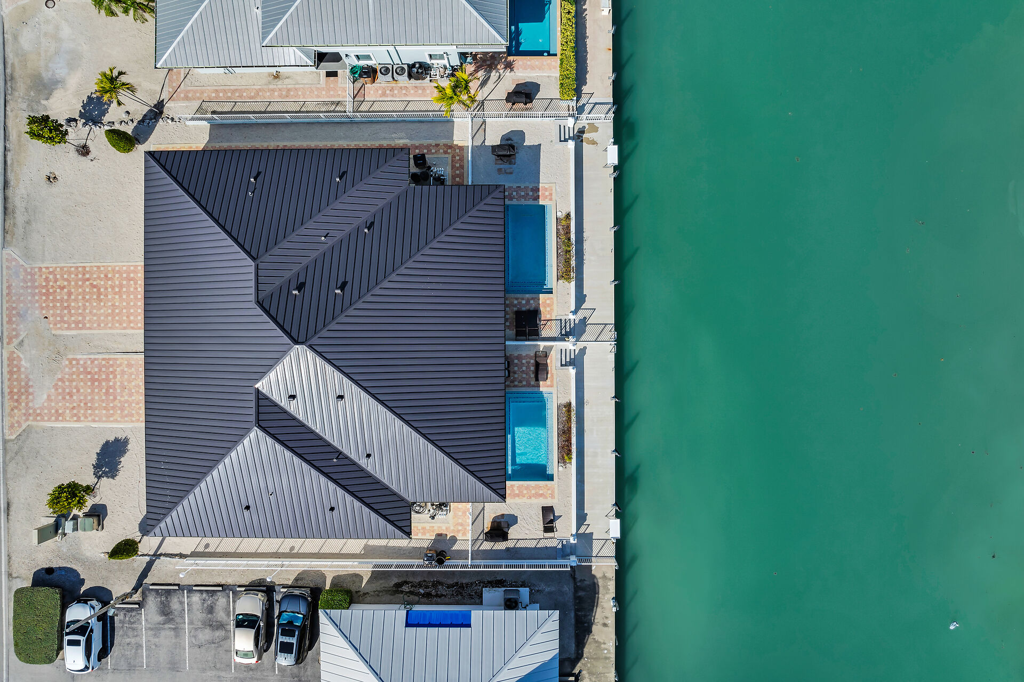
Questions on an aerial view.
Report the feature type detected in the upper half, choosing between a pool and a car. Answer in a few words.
pool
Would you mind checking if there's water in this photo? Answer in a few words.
Yes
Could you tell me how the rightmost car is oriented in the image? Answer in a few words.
from top to bottom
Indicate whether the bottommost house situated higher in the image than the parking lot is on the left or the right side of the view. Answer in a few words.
left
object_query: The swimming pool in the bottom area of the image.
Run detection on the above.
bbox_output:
[505,389,557,485]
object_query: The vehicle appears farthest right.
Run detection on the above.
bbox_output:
[273,587,313,670]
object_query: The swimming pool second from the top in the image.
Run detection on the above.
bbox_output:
[505,201,556,297]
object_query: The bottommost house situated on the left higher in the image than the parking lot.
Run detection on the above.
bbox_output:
[144,146,507,540]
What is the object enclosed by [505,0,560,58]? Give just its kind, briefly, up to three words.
swimming pool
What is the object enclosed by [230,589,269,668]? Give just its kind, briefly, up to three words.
car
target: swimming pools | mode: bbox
[505,0,560,58]
[505,389,557,485]
[505,201,556,297]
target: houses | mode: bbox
[154,0,509,74]
[318,601,561,682]
[144,146,507,540]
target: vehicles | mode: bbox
[273,587,313,670]
[230,589,269,668]
[64,596,108,674]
